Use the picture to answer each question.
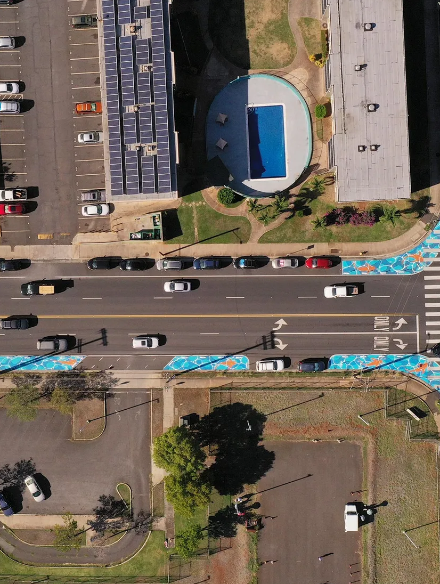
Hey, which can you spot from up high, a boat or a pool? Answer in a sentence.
There is a pool in the scene.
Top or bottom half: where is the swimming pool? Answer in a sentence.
The swimming pool sits in the top half of the picture.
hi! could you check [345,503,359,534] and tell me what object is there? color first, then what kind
white vehicle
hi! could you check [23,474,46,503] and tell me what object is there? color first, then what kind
white car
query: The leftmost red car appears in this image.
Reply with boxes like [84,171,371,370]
[0,202,26,216]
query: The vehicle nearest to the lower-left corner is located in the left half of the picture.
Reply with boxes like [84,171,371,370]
[0,488,16,518]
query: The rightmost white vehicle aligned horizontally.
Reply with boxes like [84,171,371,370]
[324,285,357,297]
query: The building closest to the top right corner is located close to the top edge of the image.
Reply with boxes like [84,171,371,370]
[321,0,411,202]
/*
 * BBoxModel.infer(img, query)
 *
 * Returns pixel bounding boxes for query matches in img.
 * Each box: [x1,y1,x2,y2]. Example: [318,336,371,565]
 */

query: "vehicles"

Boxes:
[233,256,259,269]
[0,38,16,49]
[297,359,325,372]
[257,359,284,373]
[87,258,113,270]
[0,190,28,201]
[131,337,159,350]
[0,0,15,5]
[81,204,110,216]
[81,192,105,202]
[0,488,16,518]
[78,131,103,144]
[164,280,191,292]
[156,258,183,271]
[273,257,298,269]
[193,257,219,270]
[0,260,22,271]
[75,100,102,114]
[72,16,99,28]
[37,337,68,350]
[0,317,30,328]
[0,101,20,114]
[324,285,357,297]
[305,257,332,267]
[0,202,26,216]
[0,83,20,95]
[345,503,359,534]
[119,258,146,271]
[23,474,46,503]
